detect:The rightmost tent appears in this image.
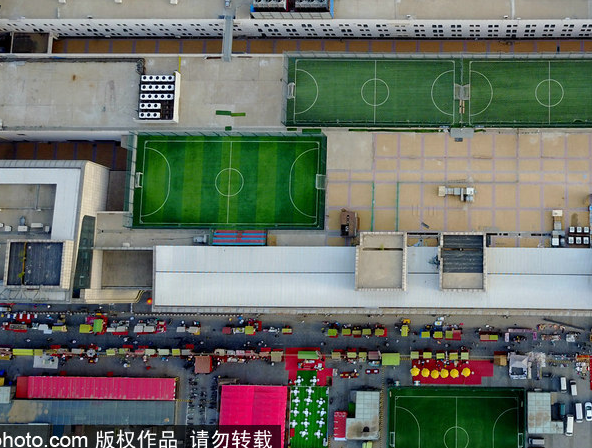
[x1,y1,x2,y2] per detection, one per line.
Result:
[508,352,529,378]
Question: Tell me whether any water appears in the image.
No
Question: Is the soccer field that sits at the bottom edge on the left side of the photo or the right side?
right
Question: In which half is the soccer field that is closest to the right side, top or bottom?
top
